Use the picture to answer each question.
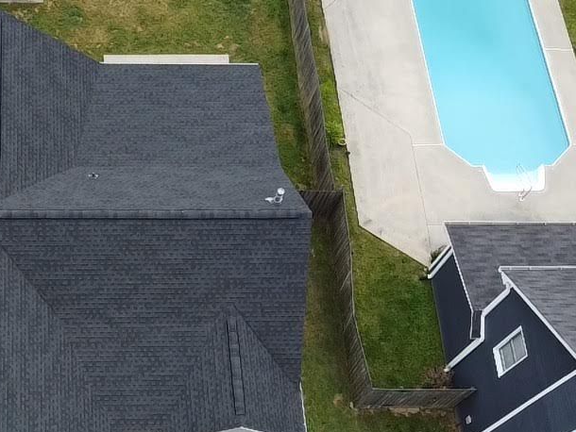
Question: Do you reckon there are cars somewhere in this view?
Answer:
No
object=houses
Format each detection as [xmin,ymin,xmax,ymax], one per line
[0,15,309,432]
[428,220,576,432]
